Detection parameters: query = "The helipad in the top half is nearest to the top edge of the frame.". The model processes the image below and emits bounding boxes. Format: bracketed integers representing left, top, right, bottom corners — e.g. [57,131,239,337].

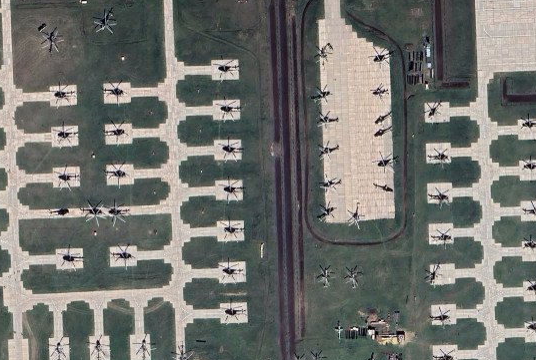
[212,59,239,79]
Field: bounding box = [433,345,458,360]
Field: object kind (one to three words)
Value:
helipad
